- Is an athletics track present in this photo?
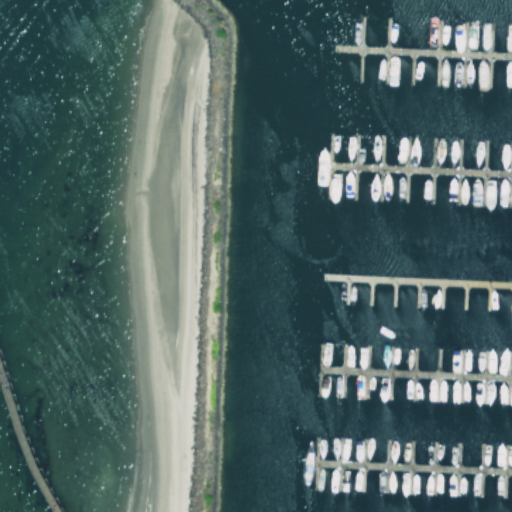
No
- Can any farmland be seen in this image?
No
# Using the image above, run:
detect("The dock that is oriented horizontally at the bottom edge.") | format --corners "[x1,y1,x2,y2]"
[315,437,512,500]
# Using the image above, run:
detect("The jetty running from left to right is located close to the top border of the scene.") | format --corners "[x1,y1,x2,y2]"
[335,16,512,89]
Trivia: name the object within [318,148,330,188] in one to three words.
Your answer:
boat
